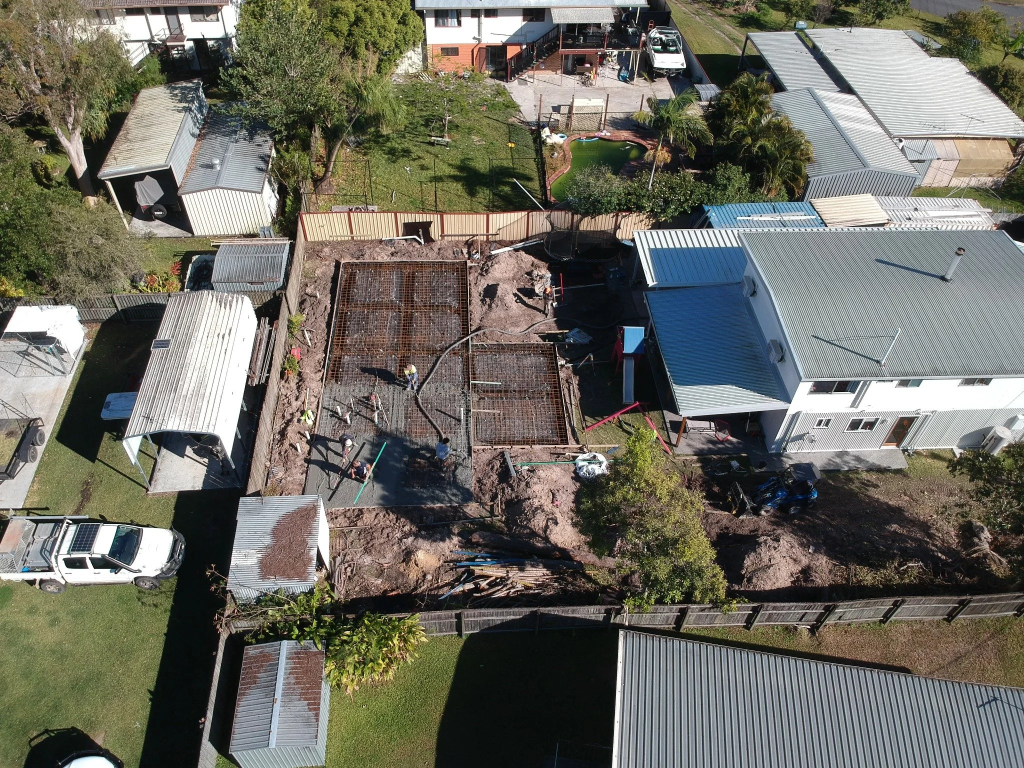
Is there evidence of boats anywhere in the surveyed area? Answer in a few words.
Yes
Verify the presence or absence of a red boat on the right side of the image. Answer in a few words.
No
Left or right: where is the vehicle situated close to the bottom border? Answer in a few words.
left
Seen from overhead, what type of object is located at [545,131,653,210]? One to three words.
swimming pool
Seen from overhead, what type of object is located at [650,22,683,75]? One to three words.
boat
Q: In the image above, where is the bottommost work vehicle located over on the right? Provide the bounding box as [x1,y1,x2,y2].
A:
[719,459,836,516]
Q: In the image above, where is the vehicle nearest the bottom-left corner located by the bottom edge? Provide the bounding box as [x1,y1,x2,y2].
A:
[57,732,128,768]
